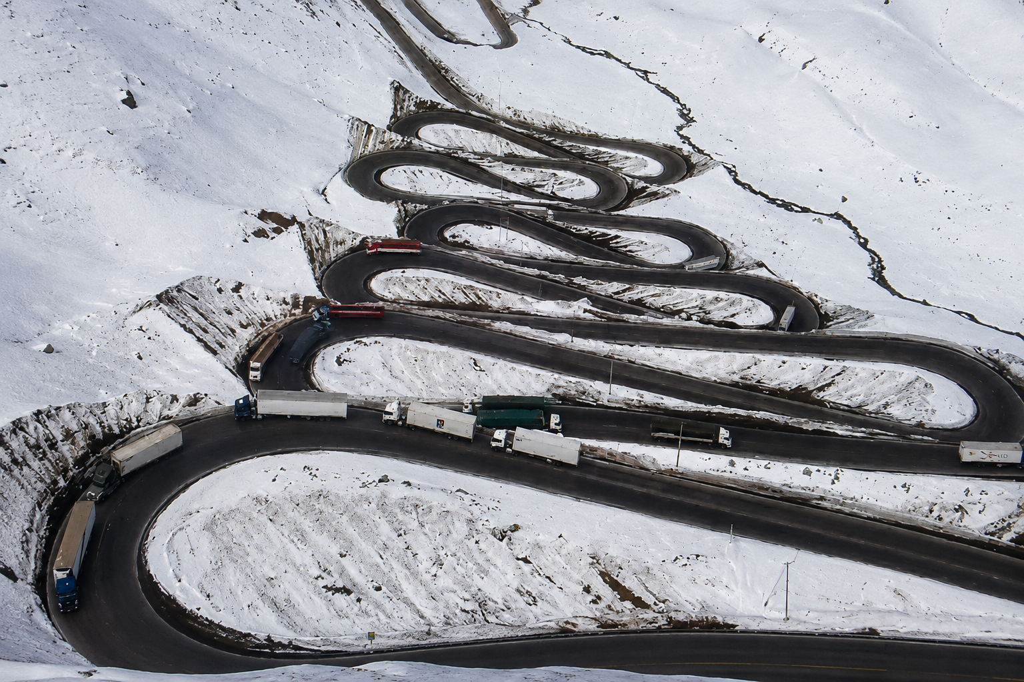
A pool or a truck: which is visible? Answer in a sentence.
There is a truck in the scene.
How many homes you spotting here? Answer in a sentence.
No homes are visible.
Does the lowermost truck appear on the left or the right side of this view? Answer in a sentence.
The lowermost truck sits on the left side.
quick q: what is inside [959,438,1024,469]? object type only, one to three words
truck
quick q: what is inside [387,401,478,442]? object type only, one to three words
truck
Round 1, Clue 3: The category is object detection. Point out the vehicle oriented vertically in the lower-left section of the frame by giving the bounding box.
[53,499,99,606]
